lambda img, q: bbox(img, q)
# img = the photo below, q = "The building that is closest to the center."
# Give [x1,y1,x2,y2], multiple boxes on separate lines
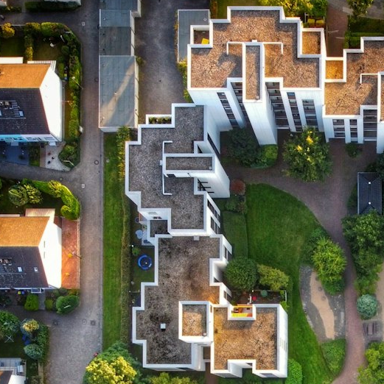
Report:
[125,104,230,245]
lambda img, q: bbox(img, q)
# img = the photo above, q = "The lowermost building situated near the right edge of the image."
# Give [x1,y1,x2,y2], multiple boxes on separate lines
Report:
[357,172,382,215]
